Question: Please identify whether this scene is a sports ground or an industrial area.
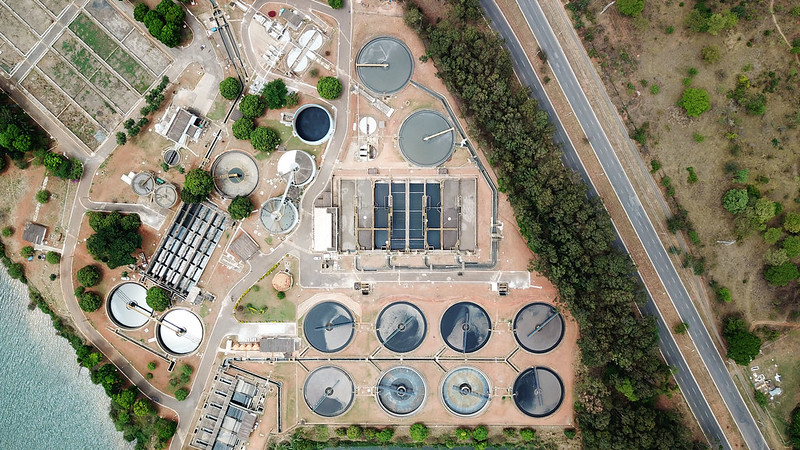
industrial area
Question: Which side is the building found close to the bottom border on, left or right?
left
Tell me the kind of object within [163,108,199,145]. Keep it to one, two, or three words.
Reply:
building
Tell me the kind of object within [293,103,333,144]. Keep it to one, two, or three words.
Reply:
storage tank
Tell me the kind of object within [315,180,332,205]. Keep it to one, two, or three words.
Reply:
shed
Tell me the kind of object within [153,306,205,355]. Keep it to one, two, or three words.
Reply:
storage tank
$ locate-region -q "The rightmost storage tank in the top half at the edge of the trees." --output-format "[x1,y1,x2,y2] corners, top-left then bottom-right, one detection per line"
[398,109,455,166]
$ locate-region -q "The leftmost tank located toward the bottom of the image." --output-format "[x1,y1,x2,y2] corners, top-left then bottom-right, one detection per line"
[103,280,153,330]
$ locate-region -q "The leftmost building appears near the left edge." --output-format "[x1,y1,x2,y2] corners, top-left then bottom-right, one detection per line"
[23,223,48,245]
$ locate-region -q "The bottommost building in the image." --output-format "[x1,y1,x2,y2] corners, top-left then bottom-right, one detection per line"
[181,366,271,450]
